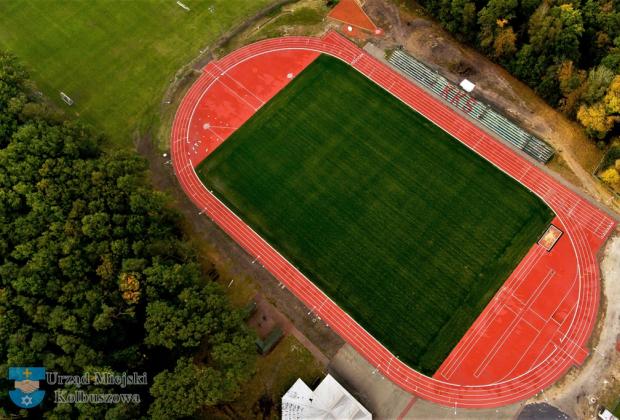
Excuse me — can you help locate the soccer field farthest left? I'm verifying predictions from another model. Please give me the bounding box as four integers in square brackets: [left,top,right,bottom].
[0,0,257,126]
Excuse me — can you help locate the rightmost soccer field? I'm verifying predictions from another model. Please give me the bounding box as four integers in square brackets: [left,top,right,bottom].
[194,53,556,377]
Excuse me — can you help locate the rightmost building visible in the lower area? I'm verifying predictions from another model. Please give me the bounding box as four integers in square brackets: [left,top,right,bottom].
[282,373,378,420]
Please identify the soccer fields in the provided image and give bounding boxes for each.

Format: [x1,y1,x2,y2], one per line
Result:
[0,0,257,126]
[194,53,556,377]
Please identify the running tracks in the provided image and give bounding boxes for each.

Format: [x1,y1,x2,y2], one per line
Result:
[170,29,616,410]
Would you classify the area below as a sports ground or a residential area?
sports ground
